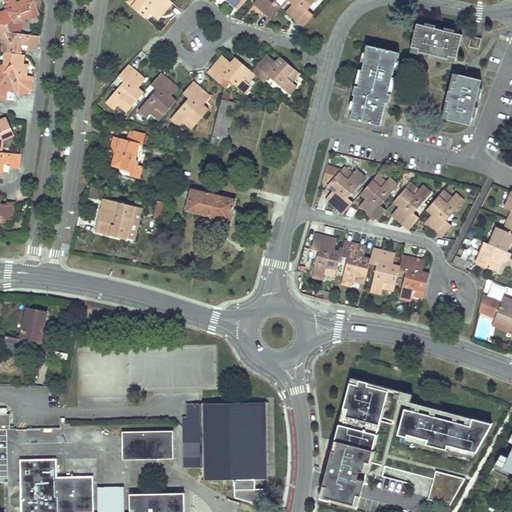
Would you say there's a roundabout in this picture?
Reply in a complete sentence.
Yes, I can see a roundabout in this picture.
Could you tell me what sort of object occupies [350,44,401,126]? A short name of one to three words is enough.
building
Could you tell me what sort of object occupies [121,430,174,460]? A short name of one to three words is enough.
building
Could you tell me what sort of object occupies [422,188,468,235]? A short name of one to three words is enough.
house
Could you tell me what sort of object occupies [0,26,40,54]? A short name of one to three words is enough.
house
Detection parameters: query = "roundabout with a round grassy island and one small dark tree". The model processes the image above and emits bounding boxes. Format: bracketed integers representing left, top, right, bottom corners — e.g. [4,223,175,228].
[212,264,337,392]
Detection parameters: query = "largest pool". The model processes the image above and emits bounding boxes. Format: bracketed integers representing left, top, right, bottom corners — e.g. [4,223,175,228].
[475,312,492,341]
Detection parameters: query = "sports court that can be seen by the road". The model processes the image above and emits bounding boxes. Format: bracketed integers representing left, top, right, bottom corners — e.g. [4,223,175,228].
[77,345,217,408]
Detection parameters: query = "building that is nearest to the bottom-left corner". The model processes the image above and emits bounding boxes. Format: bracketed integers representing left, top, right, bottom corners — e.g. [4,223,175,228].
[18,459,57,512]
